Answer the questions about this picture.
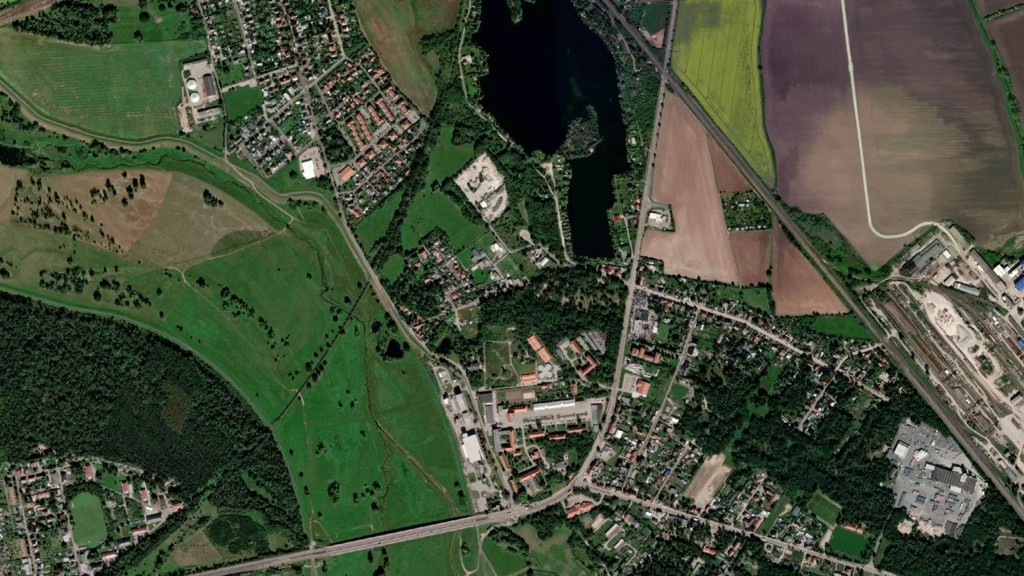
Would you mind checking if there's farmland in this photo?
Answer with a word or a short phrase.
Yes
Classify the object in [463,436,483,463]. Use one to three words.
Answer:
building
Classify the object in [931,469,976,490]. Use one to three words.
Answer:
building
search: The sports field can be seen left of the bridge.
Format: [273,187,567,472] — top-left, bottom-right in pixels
[71,492,107,548]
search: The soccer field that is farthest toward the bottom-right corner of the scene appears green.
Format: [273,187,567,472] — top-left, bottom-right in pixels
[830,527,869,557]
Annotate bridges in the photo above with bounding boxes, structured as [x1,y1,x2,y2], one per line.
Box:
[327,516,475,559]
